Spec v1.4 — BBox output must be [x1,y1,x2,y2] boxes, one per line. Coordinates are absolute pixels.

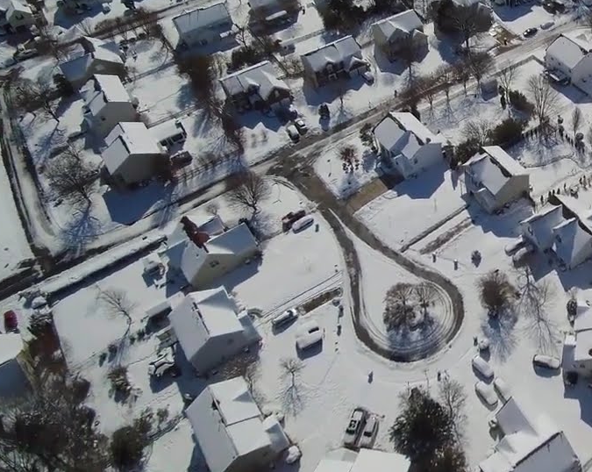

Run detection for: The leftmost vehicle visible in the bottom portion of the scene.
[4,309,19,330]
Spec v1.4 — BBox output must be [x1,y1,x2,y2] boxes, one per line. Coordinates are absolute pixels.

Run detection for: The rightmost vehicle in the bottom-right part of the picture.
[533,355,559,370]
